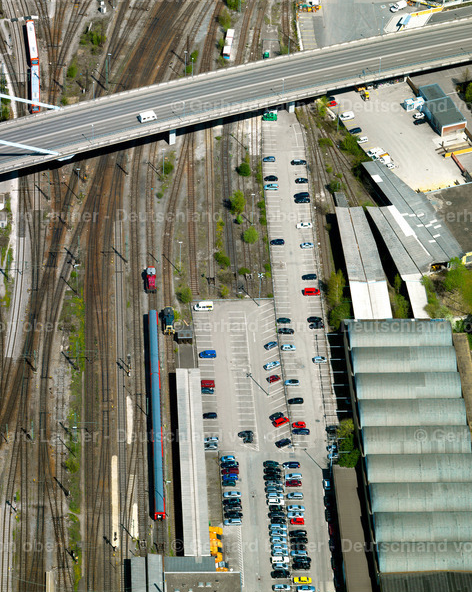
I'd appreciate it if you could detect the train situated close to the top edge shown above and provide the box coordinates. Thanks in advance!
[27,19,40,112]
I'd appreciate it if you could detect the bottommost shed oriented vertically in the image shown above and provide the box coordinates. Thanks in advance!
[331,465,375,592]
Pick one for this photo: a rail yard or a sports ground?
rail yard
